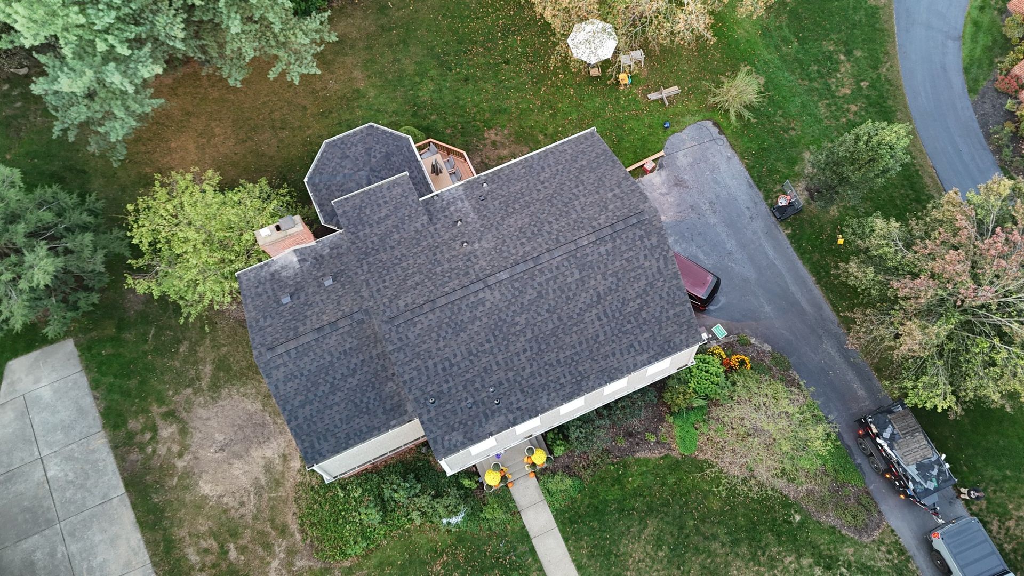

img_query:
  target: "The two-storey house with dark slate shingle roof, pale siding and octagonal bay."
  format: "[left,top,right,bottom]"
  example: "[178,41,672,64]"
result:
[232,120,710,484]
